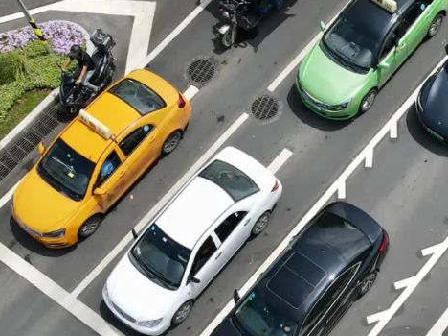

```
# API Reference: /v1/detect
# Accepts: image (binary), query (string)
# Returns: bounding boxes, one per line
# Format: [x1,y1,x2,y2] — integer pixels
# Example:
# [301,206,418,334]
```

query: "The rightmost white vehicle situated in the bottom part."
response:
[101,148,283,336]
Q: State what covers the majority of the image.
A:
paved ground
